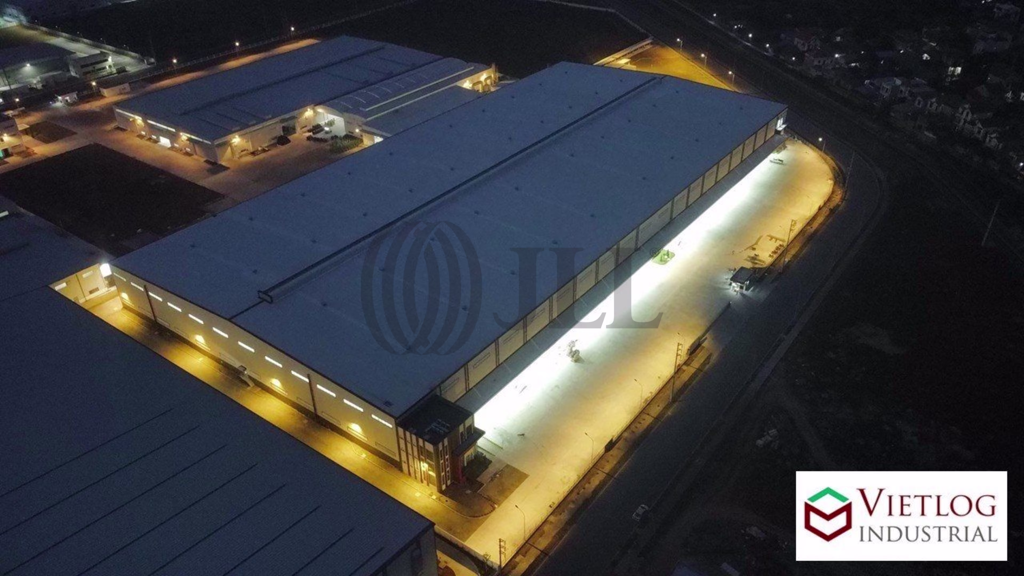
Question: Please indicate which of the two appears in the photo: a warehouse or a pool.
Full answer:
Of the two, only a warehouse appears.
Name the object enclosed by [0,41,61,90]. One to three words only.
building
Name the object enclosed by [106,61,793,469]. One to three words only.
warehouse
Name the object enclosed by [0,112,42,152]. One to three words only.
building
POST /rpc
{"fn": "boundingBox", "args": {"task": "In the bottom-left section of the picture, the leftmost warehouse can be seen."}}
[0,281,440,576]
